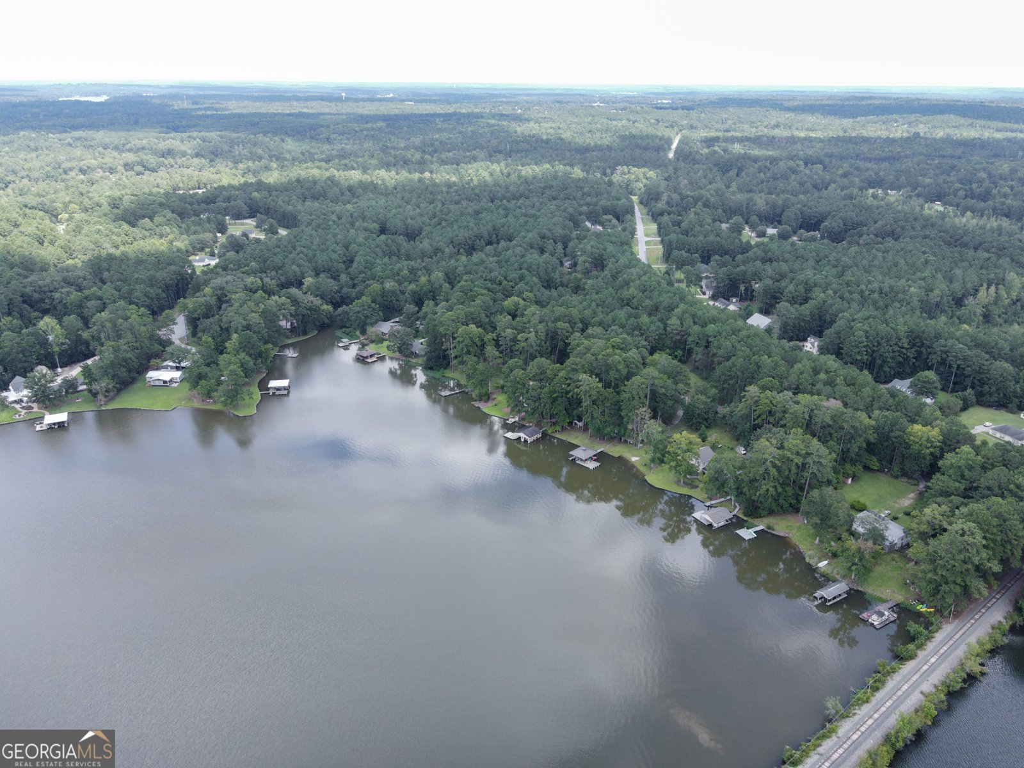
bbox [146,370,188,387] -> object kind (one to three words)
house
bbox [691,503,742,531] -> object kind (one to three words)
building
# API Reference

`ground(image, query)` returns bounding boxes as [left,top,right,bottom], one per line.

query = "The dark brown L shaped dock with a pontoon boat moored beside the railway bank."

[859,599,900,631]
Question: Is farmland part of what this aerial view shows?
No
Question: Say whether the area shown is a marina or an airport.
marina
